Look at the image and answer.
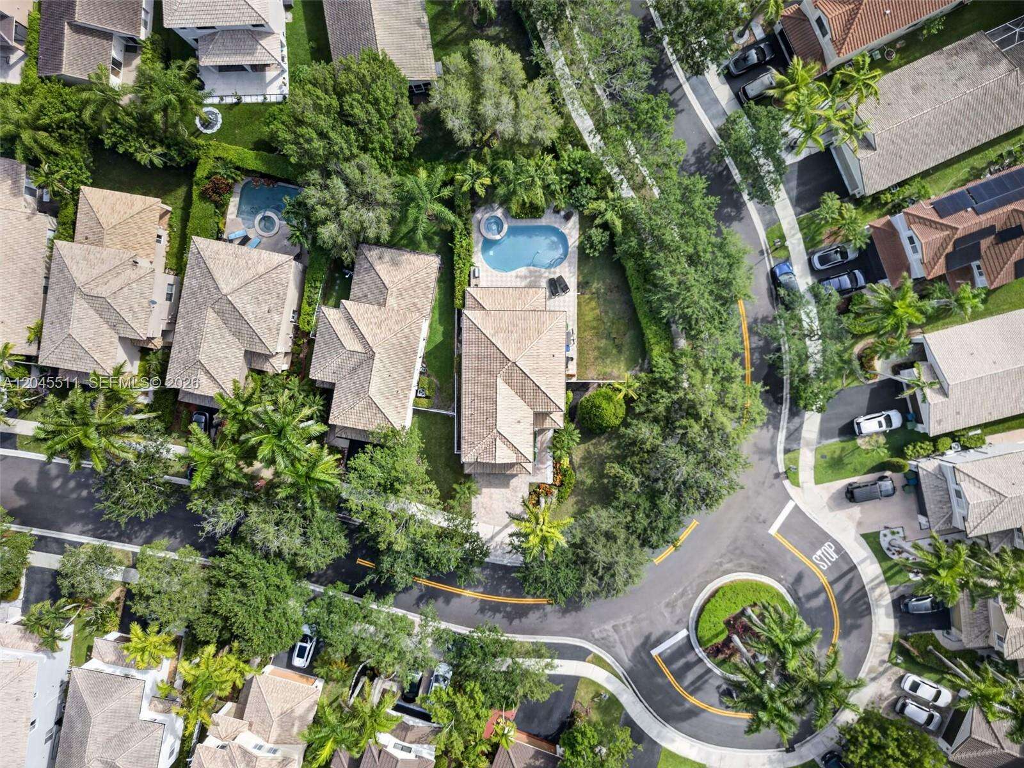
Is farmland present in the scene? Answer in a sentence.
No, the scene doesn't show any farmland.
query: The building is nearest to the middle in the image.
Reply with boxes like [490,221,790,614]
[461,286,567,476]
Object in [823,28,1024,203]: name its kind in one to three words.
house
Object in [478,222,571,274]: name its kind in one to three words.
swimming pool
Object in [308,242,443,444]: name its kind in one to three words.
house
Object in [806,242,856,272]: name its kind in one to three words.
car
